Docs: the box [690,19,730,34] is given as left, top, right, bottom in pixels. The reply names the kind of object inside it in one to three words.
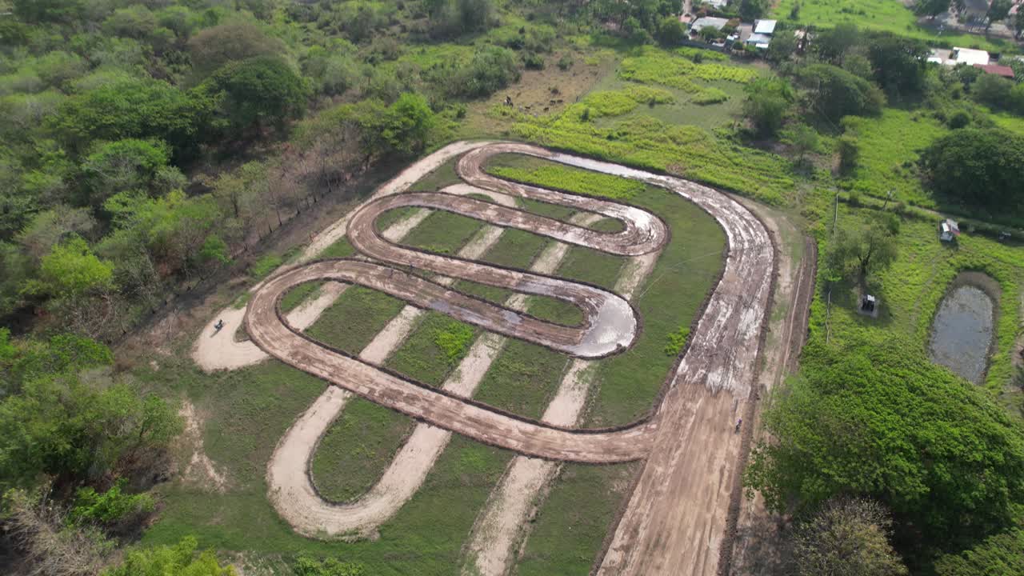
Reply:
house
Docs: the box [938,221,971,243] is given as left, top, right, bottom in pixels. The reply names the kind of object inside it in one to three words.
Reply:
shed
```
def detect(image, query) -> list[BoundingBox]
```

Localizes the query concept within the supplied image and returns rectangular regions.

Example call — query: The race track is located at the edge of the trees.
[246,143,775,576]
